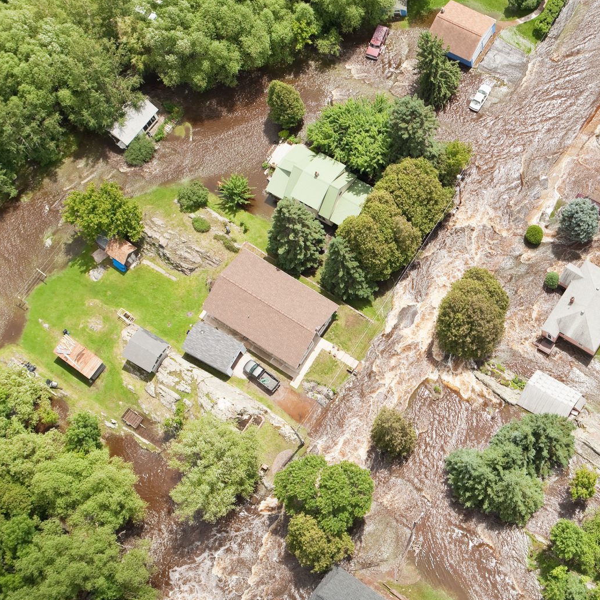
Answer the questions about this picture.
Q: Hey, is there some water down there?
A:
Yes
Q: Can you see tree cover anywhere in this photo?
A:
Yes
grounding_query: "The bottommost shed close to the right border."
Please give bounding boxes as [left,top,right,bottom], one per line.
[520,370,589,429]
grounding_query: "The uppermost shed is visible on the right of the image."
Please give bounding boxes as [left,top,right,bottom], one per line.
[382,0,408,20]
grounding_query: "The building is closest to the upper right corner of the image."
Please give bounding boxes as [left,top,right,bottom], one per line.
[424,0,497,69]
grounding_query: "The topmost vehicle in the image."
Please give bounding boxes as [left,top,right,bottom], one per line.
[364,23,390,61]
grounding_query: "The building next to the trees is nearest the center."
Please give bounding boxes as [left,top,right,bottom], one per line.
[200,249,341,369]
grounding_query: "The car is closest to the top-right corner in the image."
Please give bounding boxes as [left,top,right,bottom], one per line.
[467,81,493,116]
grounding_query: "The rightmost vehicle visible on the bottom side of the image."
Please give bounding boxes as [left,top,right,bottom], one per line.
[243,359,281,395]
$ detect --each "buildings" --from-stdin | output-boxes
[424,0,497,69]
[107,98,168,149]
[200,249,341,369]
[521,256,600,360]
[382,0,408,20]
[250,134,371,232]
[53,335,108,382]
[309,570,383,600]
[119,327,170,374]
[520,370,589,429]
